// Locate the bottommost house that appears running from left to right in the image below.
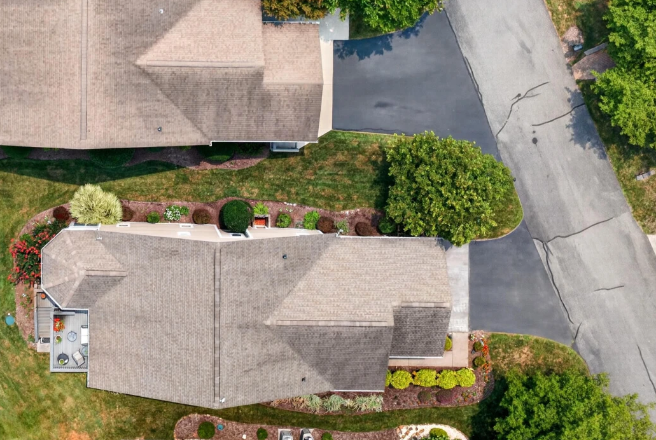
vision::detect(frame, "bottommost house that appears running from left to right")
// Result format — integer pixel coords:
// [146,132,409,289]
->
[39,223,452,409]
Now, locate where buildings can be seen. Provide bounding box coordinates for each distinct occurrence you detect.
[0,0,324,157]
[39,223,452,409]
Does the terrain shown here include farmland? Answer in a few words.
No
